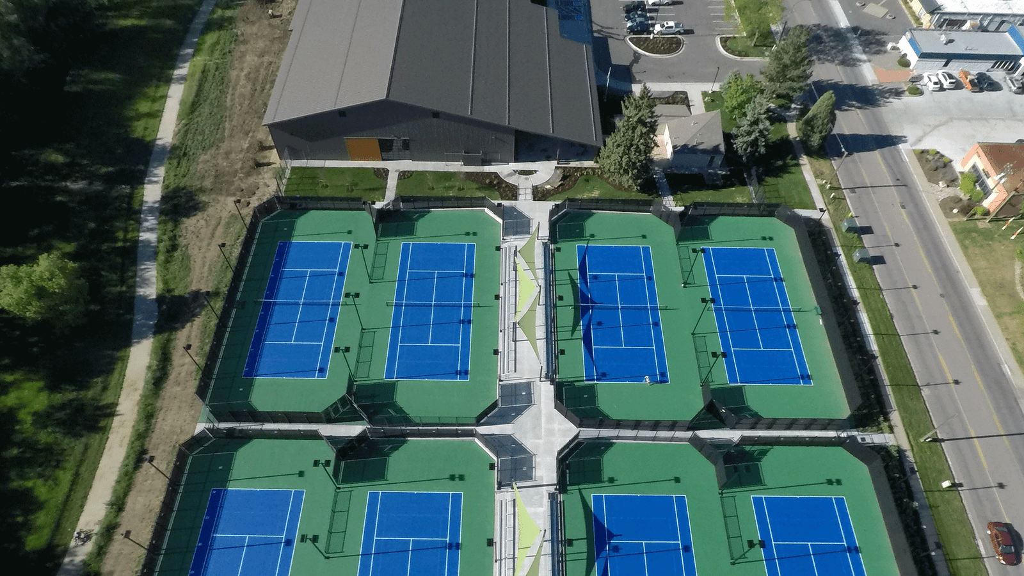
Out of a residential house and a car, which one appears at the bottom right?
car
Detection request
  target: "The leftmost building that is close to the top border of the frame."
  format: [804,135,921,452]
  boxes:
[263,0,602,165]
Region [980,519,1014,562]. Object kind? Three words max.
car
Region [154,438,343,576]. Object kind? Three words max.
tennis court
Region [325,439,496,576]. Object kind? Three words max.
tennis court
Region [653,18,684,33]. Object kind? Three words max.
vehicle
